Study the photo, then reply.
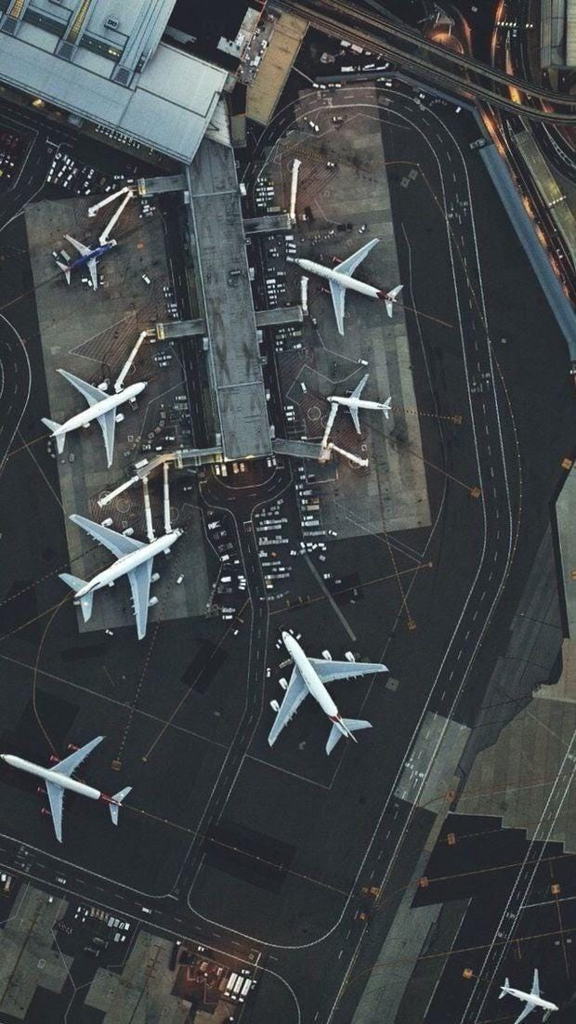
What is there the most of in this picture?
paved ground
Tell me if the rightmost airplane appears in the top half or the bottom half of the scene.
bottom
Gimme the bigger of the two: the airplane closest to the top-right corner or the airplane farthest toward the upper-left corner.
the airplane closest to the top-right corner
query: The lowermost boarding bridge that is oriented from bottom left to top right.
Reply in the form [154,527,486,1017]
[93,472,142,509]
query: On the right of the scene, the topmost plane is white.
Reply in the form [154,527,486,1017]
[294,237,405,336]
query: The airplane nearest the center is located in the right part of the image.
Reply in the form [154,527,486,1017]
[328,373,391,436]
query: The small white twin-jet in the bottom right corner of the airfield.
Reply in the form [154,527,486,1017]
[498,967,558,1024]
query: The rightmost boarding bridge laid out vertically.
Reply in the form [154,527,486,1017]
[324,398,338,441]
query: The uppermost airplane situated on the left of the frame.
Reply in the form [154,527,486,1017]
[56,235,117,294]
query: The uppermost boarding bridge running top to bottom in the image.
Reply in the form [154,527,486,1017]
[289,153,303,225]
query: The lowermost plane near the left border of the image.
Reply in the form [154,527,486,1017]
[1,736,133,845]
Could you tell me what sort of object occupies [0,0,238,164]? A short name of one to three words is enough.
building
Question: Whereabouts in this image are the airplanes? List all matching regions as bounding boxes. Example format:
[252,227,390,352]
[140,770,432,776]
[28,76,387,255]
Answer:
[294,237,405,336]
[57,514,183,642]
[498,967,558,1024]
[40,369,147,468]
[56,235,117,294]
[1,736,133,845]
[270,631,392,757]
[328,373,391,436]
